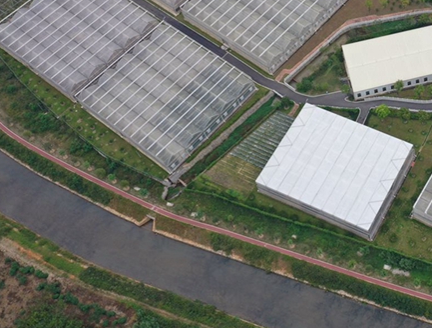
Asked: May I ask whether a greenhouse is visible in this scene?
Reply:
Yes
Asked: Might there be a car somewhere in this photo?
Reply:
No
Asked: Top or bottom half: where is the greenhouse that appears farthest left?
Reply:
top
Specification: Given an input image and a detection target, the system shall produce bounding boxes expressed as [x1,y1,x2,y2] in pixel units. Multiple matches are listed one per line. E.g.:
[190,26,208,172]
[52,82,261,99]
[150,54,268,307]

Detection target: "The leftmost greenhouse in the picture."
[0,0,155,101]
